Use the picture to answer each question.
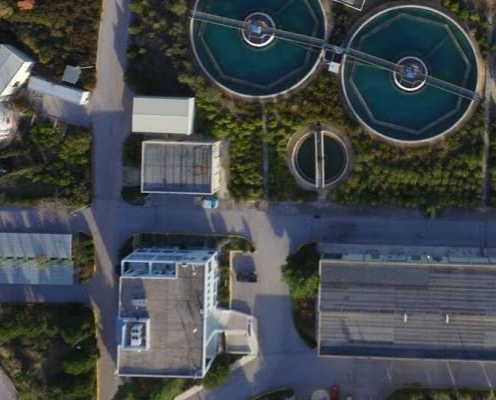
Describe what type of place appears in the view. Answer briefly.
industrial area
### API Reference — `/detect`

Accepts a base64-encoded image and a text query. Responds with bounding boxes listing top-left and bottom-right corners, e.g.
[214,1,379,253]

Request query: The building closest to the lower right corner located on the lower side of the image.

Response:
[317,247,496,364]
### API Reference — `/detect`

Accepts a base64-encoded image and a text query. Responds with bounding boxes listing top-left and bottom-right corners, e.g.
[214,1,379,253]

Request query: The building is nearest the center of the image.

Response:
[140,139,220,195]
